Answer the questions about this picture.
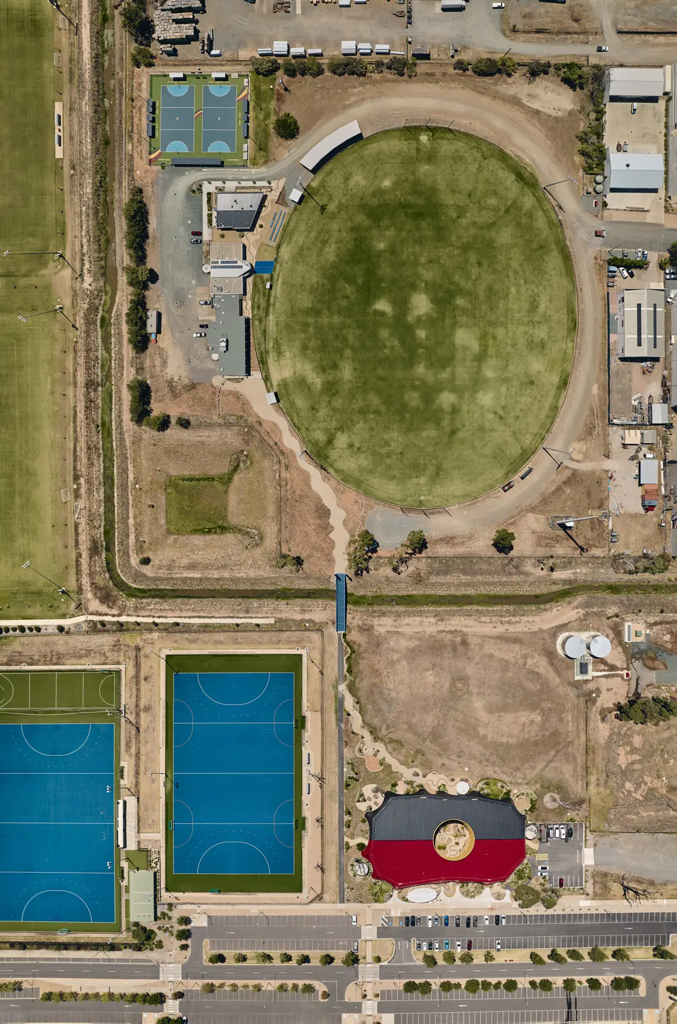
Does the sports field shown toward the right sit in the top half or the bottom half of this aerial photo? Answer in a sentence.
Seen from above, the sports field shown toward the right lies in the top half of the view.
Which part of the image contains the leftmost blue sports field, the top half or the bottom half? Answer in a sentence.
It is in the bottom half that the leftmost blue sports field appears.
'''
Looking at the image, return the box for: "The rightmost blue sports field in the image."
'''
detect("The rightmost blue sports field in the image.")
[166,654,305,892]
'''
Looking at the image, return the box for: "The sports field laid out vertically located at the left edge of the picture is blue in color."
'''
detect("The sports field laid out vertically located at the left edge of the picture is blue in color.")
[0,670,120,933]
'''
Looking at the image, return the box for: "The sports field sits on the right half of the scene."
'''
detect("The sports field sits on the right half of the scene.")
[266,126,577,509]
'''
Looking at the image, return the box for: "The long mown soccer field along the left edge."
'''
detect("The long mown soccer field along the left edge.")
[0,0,72,619]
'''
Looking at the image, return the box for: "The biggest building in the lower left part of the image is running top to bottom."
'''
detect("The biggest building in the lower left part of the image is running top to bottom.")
[130,866,157,921]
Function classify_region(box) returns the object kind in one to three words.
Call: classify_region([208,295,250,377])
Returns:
building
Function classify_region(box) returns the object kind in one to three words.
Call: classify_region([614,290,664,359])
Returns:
shed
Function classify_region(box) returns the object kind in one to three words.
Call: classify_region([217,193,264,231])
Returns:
building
